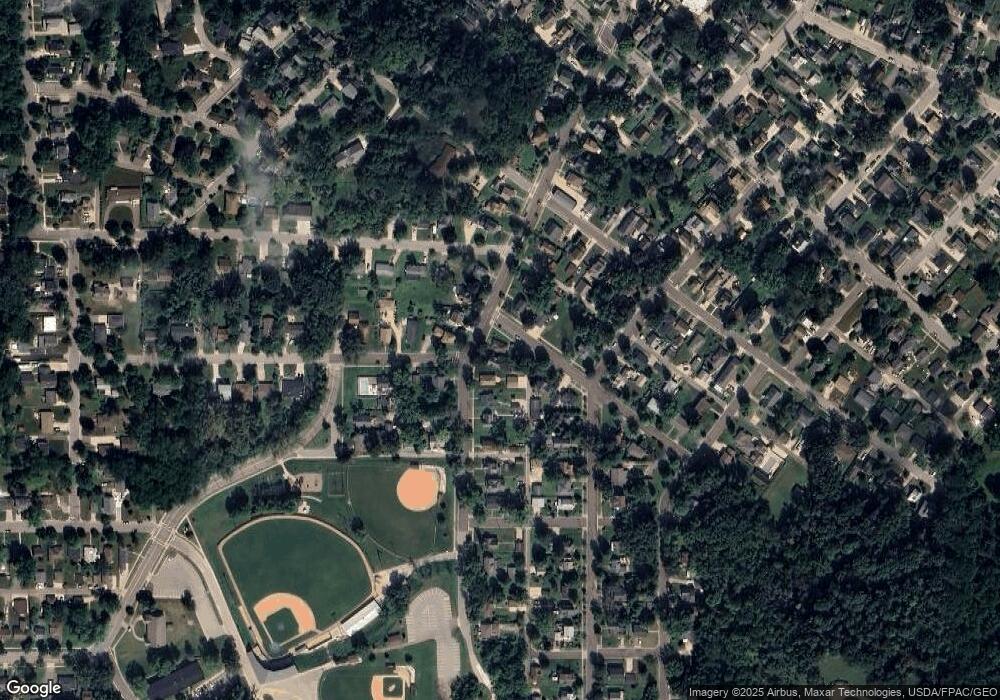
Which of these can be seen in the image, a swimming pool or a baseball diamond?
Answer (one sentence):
I can see a baseball diamond in this picture.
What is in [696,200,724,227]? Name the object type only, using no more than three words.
house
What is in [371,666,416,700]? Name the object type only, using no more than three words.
baseball field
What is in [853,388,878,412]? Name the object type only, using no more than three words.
house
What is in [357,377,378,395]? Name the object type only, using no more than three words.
building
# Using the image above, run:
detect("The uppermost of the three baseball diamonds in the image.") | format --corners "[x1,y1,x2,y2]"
[348,464,446,560]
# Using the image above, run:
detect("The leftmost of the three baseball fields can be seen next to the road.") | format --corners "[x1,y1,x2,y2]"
[218,515,375,657]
